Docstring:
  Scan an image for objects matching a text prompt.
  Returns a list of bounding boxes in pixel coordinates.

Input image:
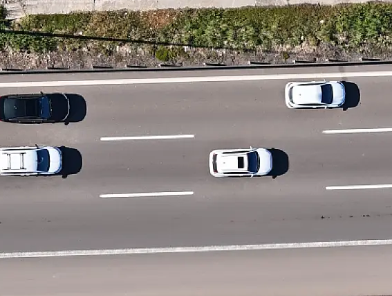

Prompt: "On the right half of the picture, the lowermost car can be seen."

[209,146,273,180]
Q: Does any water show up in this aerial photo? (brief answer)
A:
No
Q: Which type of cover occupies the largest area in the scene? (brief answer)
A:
paved ground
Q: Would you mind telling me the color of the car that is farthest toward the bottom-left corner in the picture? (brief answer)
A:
white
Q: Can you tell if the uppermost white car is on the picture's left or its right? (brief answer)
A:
right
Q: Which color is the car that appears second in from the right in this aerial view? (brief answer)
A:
white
